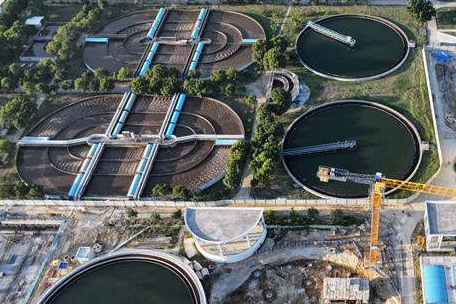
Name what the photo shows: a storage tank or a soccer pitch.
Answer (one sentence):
The image shows a storage tank.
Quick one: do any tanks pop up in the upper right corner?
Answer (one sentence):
Yes, I can see a tank in the upper right corner.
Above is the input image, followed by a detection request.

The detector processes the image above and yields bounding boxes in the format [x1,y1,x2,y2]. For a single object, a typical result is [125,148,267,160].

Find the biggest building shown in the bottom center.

[183,206,272,261]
